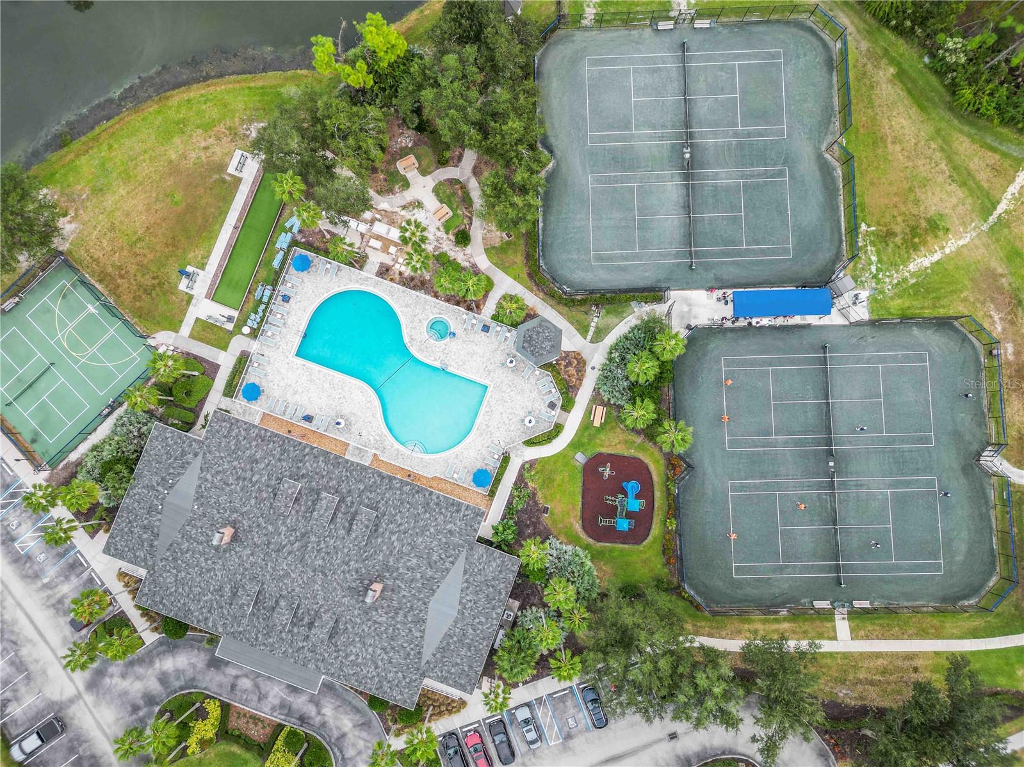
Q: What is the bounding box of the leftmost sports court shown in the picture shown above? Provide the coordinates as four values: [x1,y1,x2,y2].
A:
[0,257,150,470]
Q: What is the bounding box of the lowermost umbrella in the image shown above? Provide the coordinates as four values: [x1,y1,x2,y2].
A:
[472,468,492,488]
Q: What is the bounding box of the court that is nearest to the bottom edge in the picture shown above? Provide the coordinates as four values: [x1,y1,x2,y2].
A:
[682,459,998,608]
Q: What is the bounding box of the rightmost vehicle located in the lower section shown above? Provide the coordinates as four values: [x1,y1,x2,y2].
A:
[581,684,610,732]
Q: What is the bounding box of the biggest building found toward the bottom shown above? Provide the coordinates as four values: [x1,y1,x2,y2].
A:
[103,409,520,711]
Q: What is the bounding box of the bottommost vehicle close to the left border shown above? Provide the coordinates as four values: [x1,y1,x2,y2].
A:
[14,715,65,759]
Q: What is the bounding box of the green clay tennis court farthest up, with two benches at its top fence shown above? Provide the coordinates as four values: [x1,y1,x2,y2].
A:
[538,21,838,155]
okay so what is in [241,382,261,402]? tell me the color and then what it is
blue umbrella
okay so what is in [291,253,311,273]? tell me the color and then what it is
blue umbrella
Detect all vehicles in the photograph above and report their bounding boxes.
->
[14,715,65,759]
[440,732,468,767]
[464,729,492,767]
[488,717,517,764]
[514,704,542,751]
[581,684,610,732]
